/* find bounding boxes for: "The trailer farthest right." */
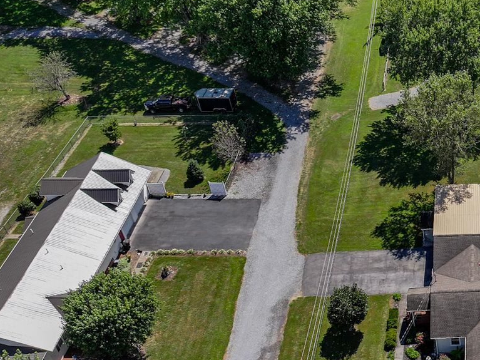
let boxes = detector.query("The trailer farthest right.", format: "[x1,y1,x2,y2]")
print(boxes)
[192,89,238,113]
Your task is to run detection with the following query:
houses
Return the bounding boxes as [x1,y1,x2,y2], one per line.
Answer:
[407,183,480,360]
[0,151,153,360]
